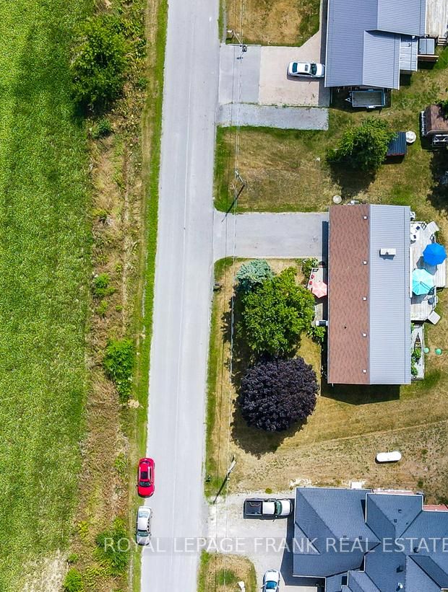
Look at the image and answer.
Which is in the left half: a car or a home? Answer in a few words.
car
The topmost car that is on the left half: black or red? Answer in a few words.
red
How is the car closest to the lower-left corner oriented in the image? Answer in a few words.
vertically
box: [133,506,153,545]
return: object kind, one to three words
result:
car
